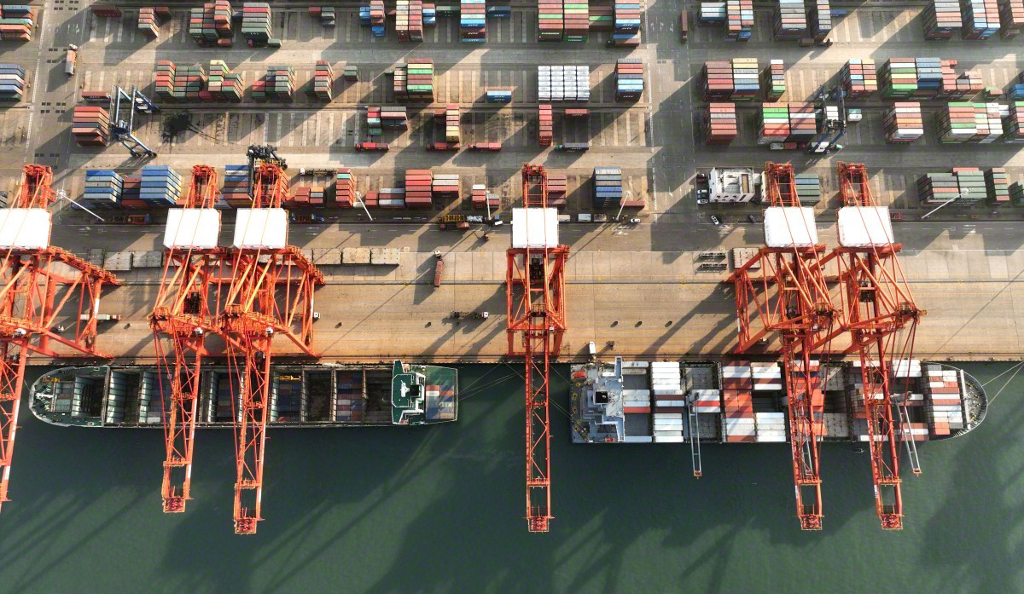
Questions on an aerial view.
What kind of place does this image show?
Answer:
port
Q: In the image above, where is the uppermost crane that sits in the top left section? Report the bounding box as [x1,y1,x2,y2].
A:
[111,86,162,155]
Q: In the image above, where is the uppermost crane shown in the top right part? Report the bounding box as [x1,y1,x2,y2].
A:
[805,81,848,152]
